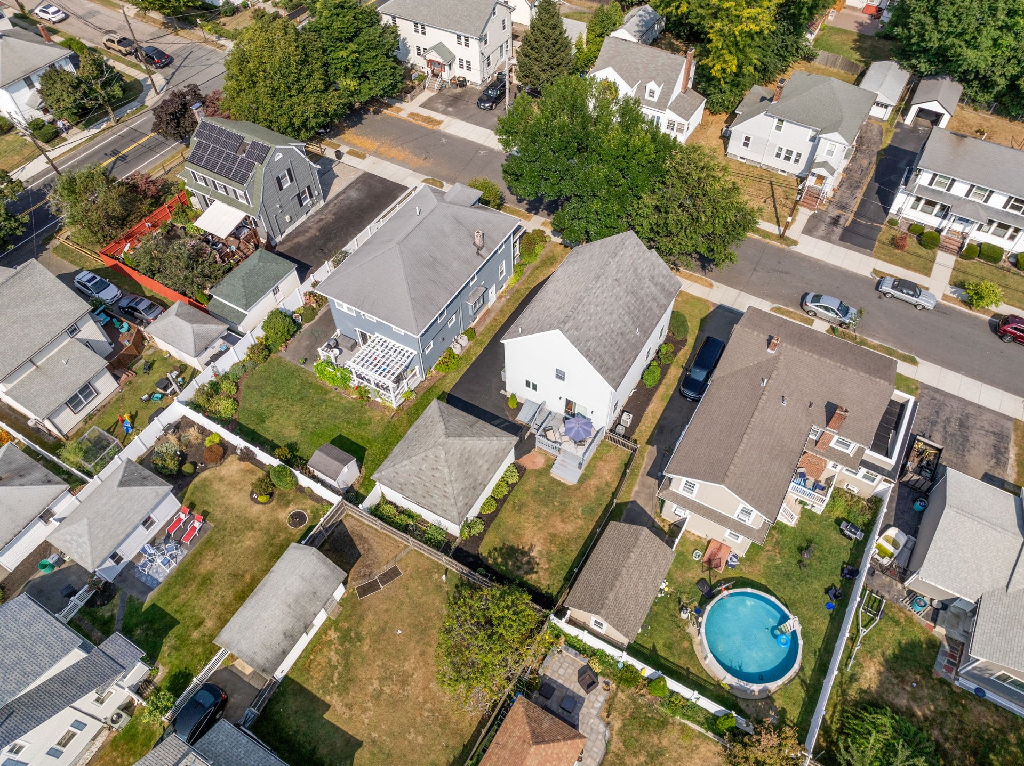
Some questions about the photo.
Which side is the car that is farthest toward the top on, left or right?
left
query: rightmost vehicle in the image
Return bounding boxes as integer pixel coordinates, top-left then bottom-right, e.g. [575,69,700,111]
[992,313,1024,346]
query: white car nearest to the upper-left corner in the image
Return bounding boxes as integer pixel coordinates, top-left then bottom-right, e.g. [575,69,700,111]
[35,1,70,24]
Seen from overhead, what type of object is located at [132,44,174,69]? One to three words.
car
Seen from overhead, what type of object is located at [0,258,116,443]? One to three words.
house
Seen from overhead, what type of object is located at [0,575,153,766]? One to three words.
house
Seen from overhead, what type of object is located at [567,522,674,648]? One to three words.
building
